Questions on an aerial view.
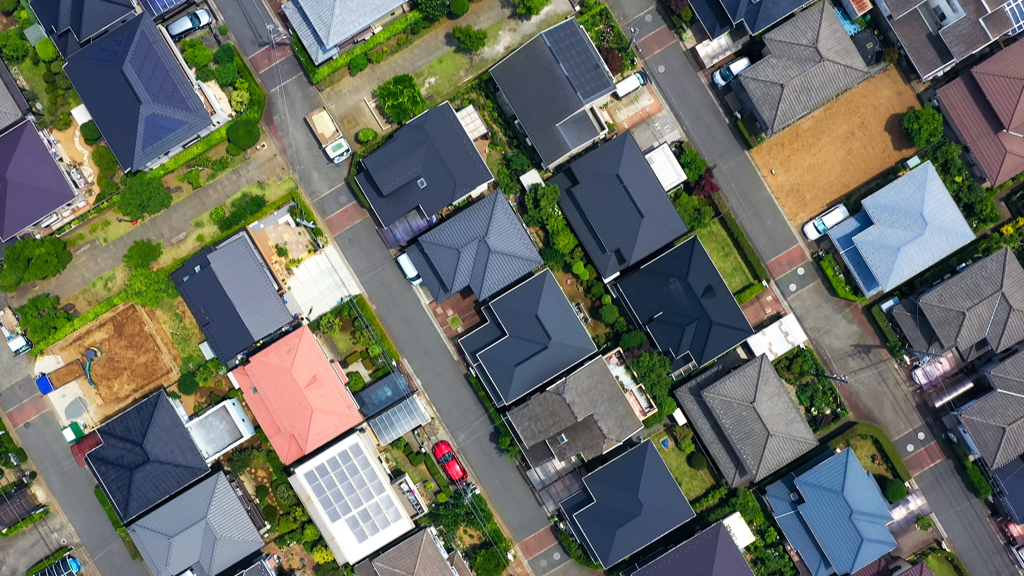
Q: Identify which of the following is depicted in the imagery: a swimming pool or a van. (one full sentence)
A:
Looking from above, you can make out a van.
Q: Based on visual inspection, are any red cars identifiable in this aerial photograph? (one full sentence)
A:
Yes, a red car is visible in the scene.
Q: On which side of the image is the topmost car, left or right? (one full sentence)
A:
You can find the topmost car on the left side of the picture.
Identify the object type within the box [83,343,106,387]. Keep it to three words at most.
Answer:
work vehicle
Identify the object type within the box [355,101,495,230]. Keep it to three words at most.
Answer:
house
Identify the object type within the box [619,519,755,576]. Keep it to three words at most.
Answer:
house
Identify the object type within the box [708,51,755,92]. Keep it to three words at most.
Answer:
car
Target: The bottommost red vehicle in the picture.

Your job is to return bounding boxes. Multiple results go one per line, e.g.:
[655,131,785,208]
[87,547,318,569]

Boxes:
[430,436,470,487]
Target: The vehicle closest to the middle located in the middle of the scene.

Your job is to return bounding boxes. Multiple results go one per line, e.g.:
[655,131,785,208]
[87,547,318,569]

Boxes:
[392,249,424,288]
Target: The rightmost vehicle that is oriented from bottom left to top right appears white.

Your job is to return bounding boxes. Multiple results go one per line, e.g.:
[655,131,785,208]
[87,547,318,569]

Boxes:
[799,200,854,244]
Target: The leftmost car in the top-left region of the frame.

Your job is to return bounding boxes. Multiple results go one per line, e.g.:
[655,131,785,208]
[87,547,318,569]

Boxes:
[165,6,217,39]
